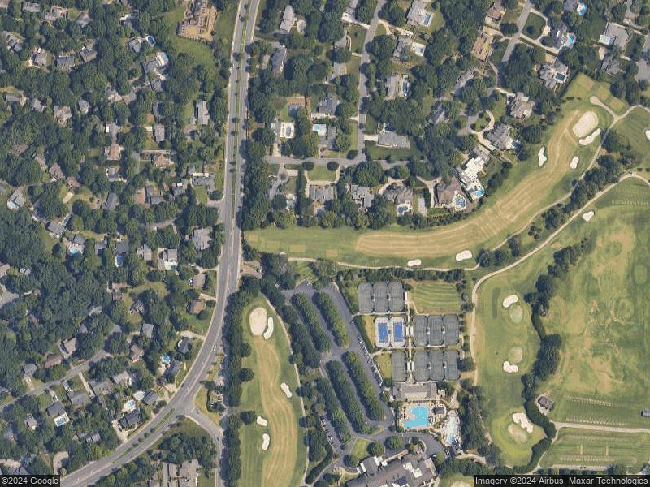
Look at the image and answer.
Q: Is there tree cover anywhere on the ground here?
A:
Yes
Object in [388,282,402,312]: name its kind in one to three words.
tennis court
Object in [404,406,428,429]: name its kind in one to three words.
swimming pool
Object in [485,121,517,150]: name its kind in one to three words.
house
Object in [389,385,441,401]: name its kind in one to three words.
building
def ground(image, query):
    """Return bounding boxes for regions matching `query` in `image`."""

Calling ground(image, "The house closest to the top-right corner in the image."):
[607,23,631,46]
